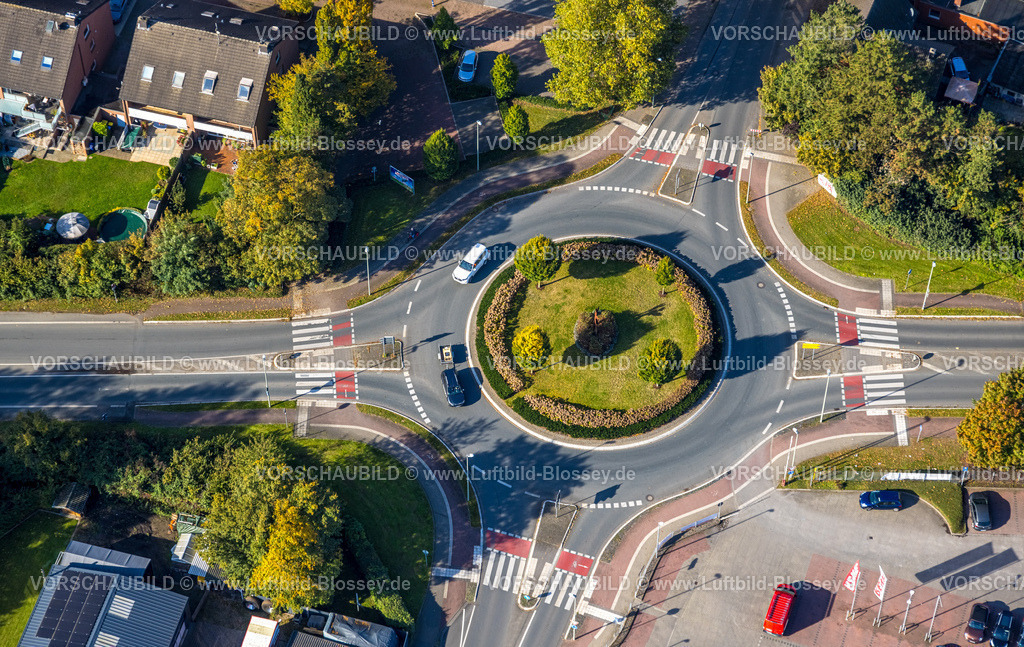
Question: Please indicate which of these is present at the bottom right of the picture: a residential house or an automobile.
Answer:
automobile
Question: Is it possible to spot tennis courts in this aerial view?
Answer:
No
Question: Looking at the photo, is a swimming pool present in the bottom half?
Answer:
No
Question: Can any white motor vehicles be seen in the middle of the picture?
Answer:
Yes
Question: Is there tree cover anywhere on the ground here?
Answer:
Yes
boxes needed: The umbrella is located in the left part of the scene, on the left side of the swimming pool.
[52,211,86,238]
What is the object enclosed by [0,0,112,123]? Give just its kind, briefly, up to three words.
house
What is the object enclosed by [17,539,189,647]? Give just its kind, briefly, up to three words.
building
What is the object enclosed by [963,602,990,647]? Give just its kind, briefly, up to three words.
car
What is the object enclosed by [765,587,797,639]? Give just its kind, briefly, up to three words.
van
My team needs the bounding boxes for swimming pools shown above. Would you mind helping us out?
[97,203,147,247]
